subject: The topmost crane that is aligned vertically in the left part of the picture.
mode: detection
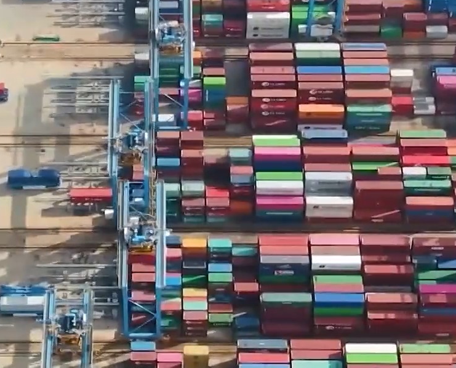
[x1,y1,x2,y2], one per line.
[149,0,196,136]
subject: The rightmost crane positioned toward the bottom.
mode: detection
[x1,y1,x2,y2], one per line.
[114,183,170,343]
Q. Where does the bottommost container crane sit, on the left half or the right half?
left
